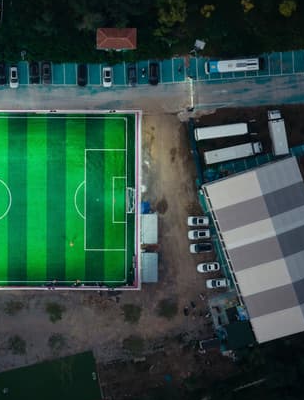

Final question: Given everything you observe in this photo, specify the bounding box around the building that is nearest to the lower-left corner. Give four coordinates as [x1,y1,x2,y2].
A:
[141,252,158,282]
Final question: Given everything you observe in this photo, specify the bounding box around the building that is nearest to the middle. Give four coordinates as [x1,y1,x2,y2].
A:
[141,214,158,244]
